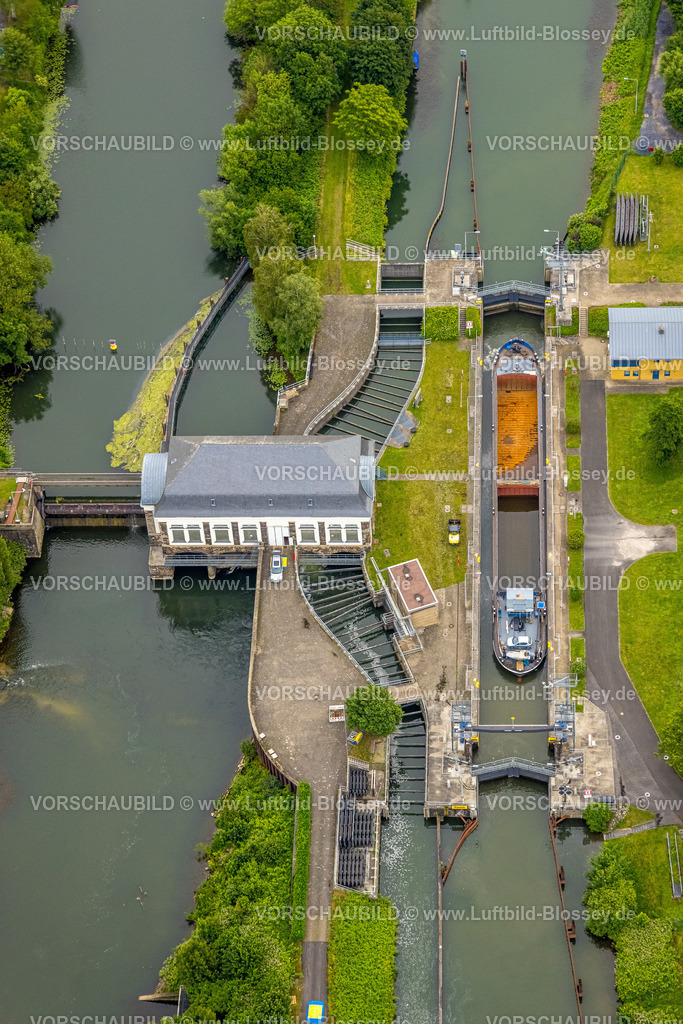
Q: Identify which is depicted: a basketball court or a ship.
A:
ship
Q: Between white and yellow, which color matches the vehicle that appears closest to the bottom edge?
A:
yellow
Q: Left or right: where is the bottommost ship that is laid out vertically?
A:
right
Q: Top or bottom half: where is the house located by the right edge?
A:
top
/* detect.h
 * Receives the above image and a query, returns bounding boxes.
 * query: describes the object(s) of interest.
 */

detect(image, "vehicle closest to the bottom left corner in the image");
[305,1002,326,1024]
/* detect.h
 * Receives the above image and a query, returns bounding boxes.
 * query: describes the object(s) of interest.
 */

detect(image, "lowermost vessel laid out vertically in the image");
[491,338,548,684]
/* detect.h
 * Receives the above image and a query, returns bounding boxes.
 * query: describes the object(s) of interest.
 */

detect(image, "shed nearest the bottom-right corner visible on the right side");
[387,558,438,628]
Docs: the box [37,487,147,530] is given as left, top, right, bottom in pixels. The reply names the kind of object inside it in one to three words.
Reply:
dam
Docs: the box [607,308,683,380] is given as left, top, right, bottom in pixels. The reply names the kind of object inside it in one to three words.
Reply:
house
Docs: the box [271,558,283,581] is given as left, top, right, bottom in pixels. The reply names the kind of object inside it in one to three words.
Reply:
vehicle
